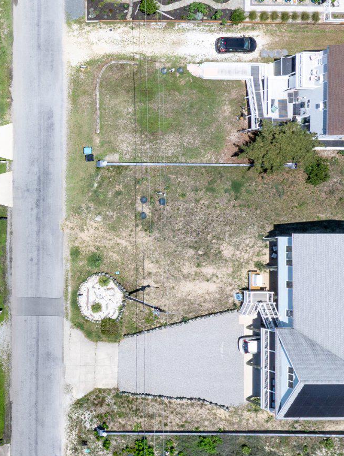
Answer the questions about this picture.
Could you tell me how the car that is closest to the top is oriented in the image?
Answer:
from side to side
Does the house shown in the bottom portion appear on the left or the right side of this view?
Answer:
right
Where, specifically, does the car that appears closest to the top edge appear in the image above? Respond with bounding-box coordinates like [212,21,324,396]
[215,35,255,54]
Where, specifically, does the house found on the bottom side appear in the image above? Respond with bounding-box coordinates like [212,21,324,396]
[230,233,344,419]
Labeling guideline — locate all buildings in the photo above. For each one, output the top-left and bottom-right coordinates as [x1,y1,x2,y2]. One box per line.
[261,43,344,158]
[230,233,344,419]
